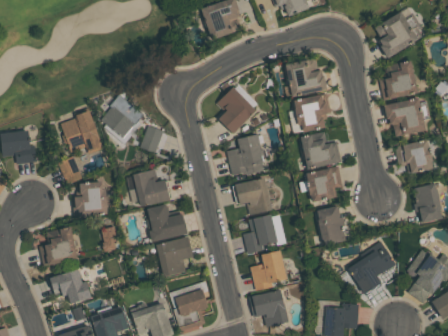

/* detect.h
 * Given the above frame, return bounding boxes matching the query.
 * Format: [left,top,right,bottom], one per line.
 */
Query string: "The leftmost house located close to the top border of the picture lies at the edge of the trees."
[203,0,240,38]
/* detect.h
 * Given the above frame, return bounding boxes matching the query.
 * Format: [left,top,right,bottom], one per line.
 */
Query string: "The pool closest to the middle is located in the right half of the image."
[266,126,280,146]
